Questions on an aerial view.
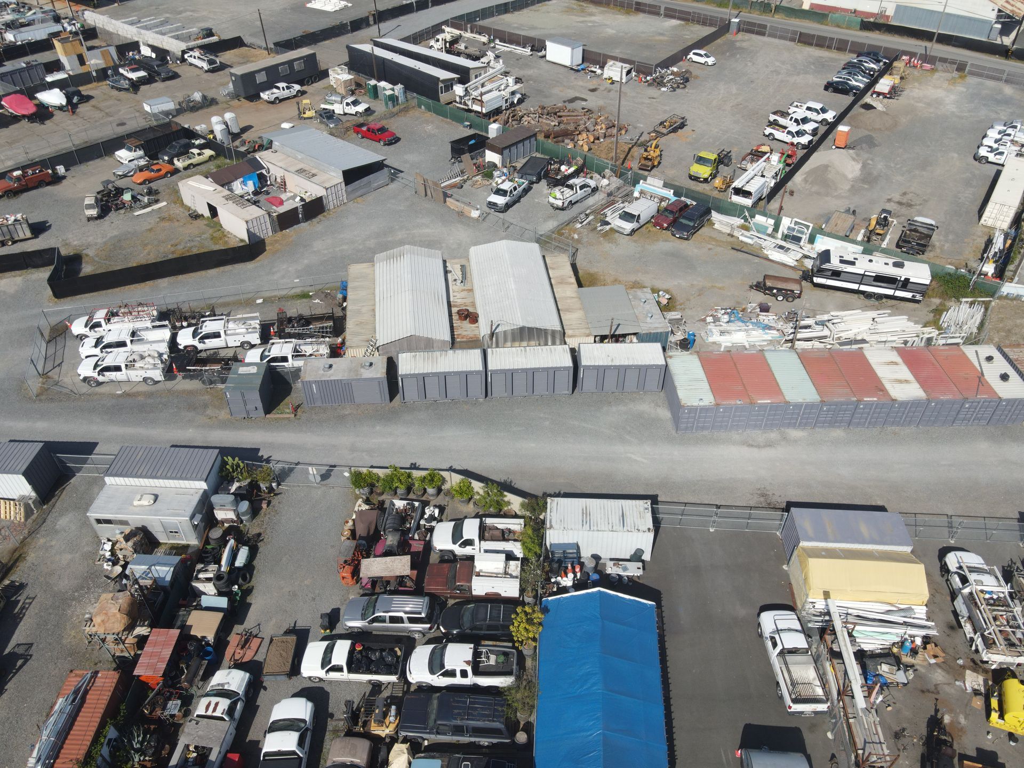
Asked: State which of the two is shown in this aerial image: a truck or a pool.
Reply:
truck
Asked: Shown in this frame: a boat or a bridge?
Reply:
boat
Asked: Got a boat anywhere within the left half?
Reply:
Yes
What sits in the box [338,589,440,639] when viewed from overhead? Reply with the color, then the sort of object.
gray car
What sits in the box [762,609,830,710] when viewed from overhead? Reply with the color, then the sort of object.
white truck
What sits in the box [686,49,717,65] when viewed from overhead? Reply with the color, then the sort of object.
white car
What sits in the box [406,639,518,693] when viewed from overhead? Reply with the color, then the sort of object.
white truck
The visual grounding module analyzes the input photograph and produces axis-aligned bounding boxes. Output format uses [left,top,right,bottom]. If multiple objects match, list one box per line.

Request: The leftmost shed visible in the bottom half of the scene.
[0,446,60,508]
